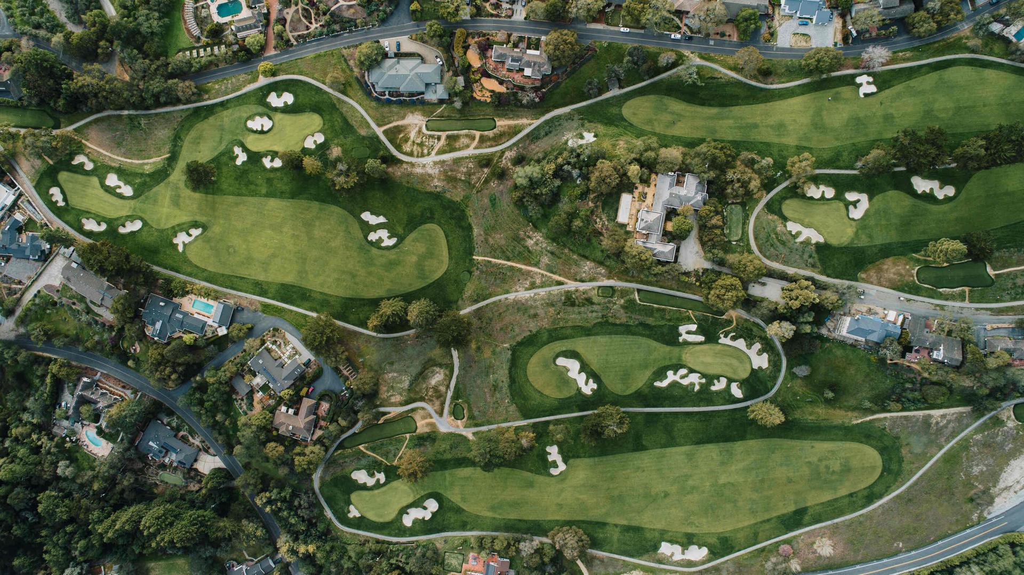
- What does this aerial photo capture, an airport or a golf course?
golf course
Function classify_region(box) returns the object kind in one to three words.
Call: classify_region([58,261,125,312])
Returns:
house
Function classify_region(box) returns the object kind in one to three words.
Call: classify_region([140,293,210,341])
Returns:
house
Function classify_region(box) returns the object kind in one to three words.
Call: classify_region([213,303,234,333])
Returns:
building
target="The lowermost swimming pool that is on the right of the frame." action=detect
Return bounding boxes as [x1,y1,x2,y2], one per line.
[617,193,633,223]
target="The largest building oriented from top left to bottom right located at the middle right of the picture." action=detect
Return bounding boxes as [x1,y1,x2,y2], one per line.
[905,316,963,362]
